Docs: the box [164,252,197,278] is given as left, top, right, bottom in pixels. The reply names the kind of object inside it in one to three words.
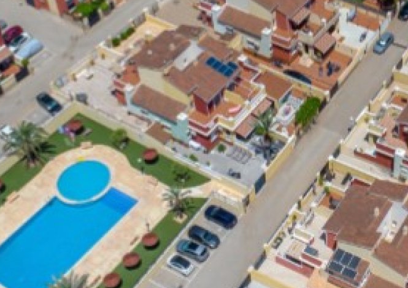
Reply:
car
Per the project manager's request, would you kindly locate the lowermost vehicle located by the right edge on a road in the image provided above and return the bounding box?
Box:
[374,33,393,53]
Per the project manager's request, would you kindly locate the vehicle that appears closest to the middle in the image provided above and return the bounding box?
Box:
[205,207,237,229]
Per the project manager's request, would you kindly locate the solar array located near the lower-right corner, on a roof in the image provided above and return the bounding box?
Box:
[331,250,361,282]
